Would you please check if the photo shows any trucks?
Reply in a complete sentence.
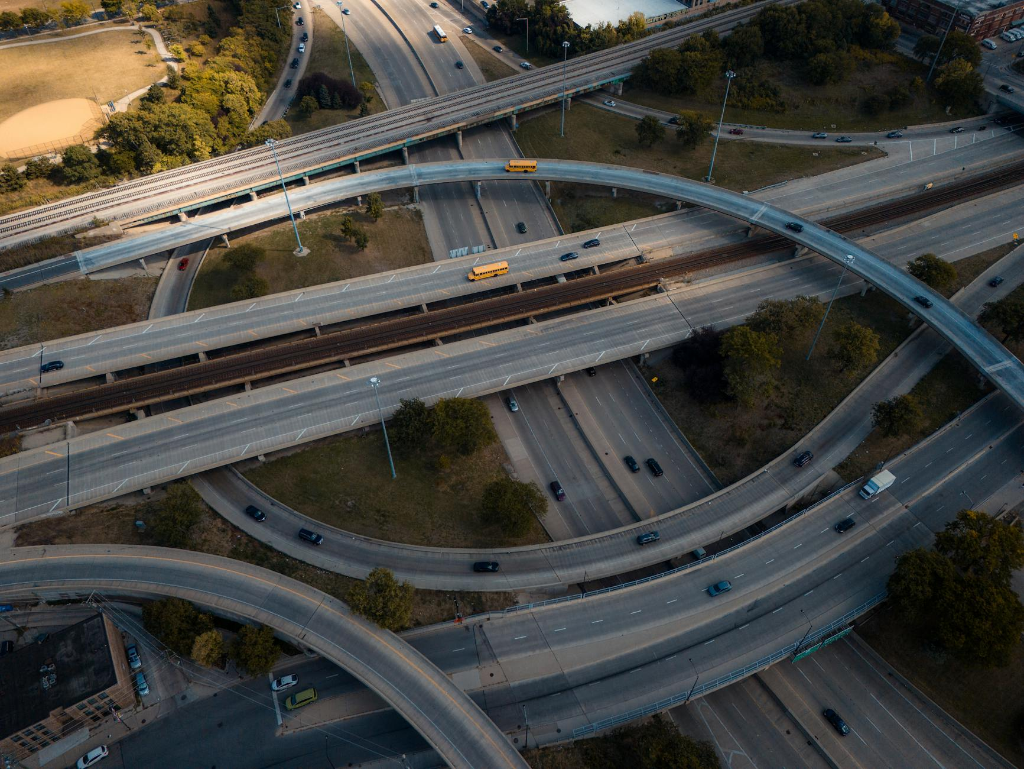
Yes, looking at the shot, I can spot a truck.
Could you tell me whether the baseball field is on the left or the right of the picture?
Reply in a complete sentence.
The baseball field sits on the left side.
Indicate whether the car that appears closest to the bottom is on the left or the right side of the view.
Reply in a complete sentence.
You can find the car that appears closest to the bottom on the left side of the picture.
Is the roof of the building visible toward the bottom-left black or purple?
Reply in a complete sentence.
In this view, the roof of the building visible toward the bottom-left is black.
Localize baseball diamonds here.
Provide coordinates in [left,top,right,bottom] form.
[0,99,101,158]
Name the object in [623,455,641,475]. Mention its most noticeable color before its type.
black car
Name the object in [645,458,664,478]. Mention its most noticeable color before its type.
black car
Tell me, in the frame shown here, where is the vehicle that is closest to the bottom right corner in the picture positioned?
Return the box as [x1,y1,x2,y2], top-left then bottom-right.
[822,707,853,739]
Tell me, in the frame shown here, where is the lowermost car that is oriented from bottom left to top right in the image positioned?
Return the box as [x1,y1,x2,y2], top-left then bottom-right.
[76,741,113,769]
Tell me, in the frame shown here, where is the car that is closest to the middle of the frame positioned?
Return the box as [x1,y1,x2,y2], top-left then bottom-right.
[505,396,520,414]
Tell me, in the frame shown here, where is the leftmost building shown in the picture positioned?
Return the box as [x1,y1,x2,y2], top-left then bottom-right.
[0,613,136,769]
